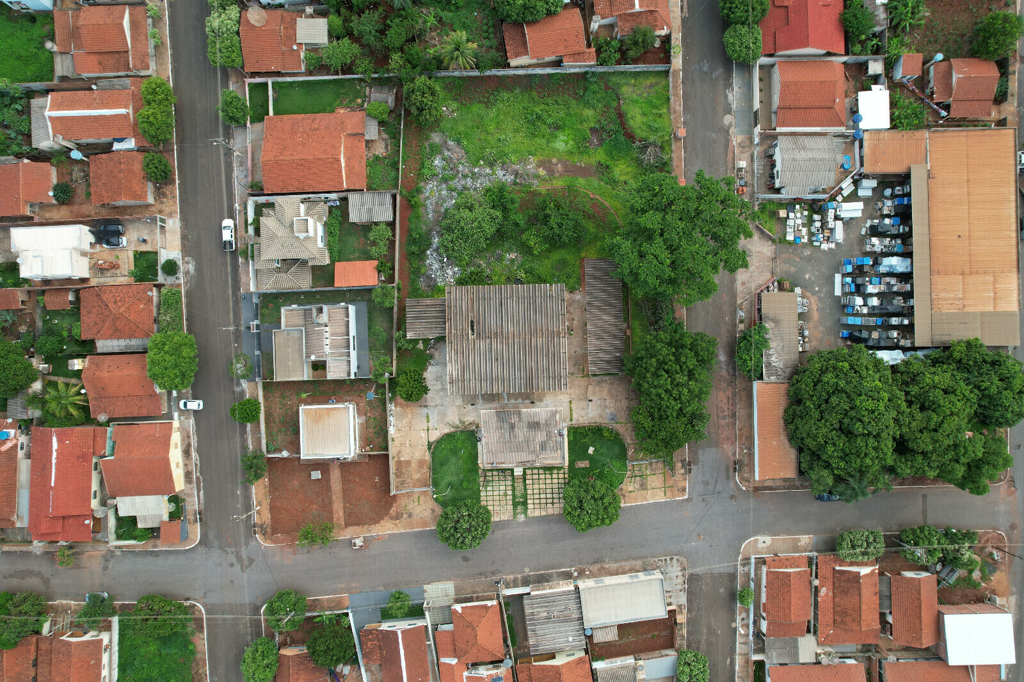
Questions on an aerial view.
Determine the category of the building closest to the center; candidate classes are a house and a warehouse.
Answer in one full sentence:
I'd say the building closest to the center is a warehouse.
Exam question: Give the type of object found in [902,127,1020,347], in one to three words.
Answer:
warehouse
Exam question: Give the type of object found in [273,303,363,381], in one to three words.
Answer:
house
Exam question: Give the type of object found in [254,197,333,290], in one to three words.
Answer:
house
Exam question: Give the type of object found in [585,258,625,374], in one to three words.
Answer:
shed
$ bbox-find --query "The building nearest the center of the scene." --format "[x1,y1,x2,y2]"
[445,283,569,394]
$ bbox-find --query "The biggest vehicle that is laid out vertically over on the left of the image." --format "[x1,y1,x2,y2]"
[222,219,236,250]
